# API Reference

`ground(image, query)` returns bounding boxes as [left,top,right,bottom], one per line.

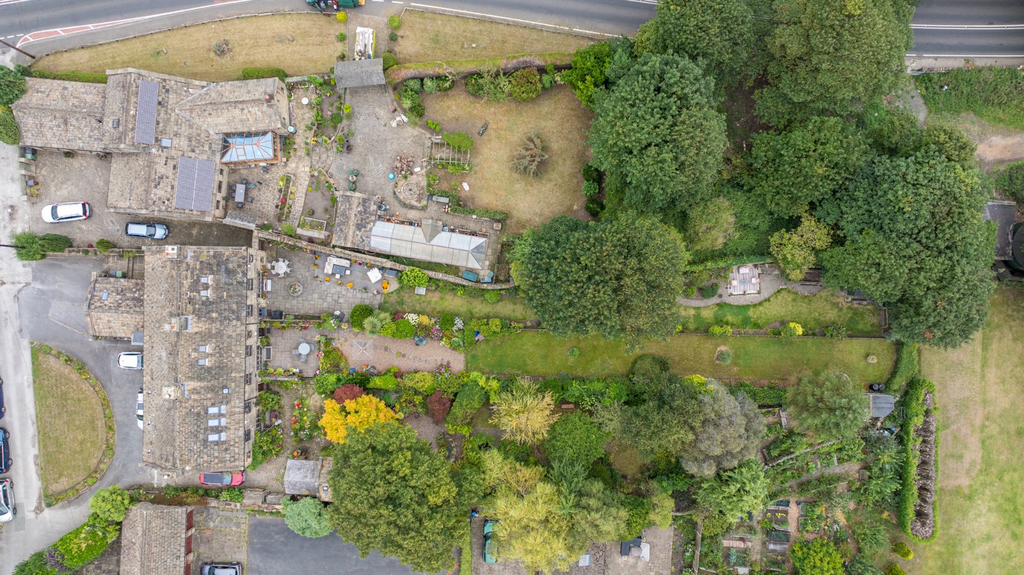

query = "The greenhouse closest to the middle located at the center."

[370,218,488,269]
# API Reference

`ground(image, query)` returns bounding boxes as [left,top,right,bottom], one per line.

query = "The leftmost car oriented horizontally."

[43,200,92,222]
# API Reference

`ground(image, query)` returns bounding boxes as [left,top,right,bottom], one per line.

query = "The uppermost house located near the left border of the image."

[9,66,292,220]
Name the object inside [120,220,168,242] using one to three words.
car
